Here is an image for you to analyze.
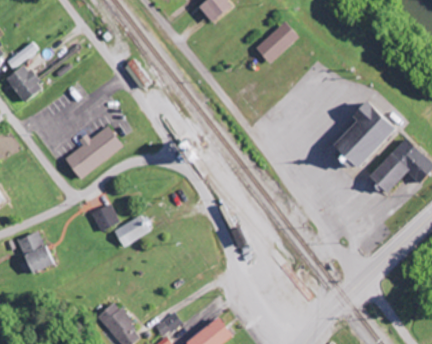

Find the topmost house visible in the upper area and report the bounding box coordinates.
[200,0,234,24]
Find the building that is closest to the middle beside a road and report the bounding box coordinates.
[178,138,210,178]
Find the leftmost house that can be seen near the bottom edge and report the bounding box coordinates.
[98,304,140,344]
